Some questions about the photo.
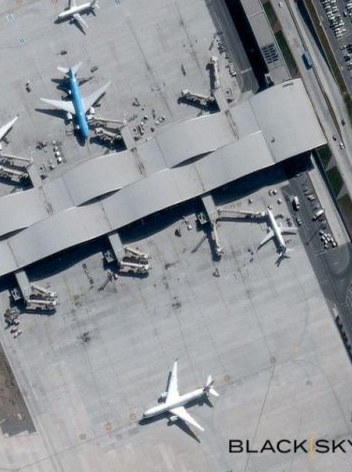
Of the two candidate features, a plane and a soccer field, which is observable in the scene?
plane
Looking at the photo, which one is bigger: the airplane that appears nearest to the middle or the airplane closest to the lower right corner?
the airplane closest to the lower right corner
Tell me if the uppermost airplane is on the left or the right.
left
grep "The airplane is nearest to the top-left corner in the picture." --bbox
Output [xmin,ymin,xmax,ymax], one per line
[58,0,99,27]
